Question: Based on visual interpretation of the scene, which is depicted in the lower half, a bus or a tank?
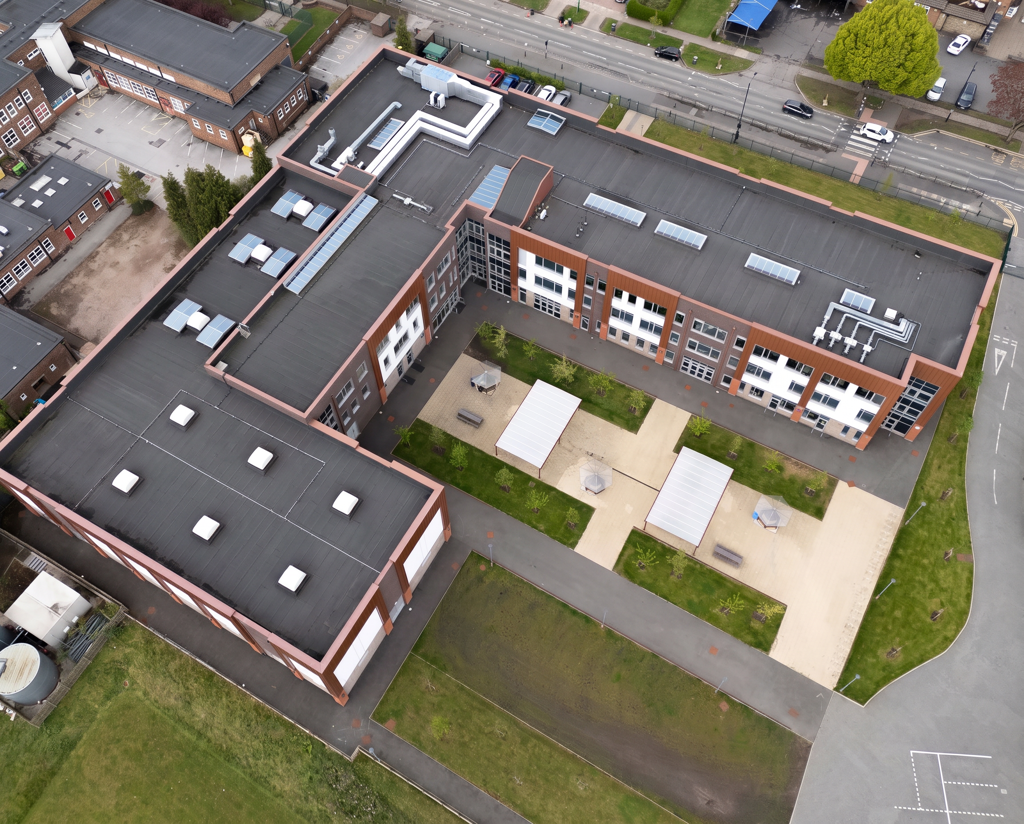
tank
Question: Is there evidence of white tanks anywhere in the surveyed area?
Yes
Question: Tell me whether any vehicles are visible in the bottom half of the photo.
No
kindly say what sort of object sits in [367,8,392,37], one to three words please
shed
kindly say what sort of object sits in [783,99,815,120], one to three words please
car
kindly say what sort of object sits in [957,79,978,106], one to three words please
car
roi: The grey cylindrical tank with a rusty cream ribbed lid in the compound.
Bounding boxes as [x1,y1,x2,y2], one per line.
[0,639,55,704]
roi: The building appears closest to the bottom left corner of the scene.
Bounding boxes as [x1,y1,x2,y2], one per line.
[2,570,92,648]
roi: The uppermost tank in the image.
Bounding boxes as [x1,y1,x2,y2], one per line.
[0,615,32,643]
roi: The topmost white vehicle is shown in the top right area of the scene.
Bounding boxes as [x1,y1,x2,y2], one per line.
[949,35,970,54]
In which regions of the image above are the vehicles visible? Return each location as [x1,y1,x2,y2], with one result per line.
[536,85,556,103]
[783,99,815,120]
[957,79,978,106]
[654,44,681,61]
[483,67,504,87]
[551,91,571,109]
[861,123,894,144]
[927,73,947,97]
[512,78,533,97]
[949,35,970,54]
[497,74,519,91]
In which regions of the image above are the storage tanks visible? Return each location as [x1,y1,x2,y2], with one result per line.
[0,639,55,704]
[0,615,32,643]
